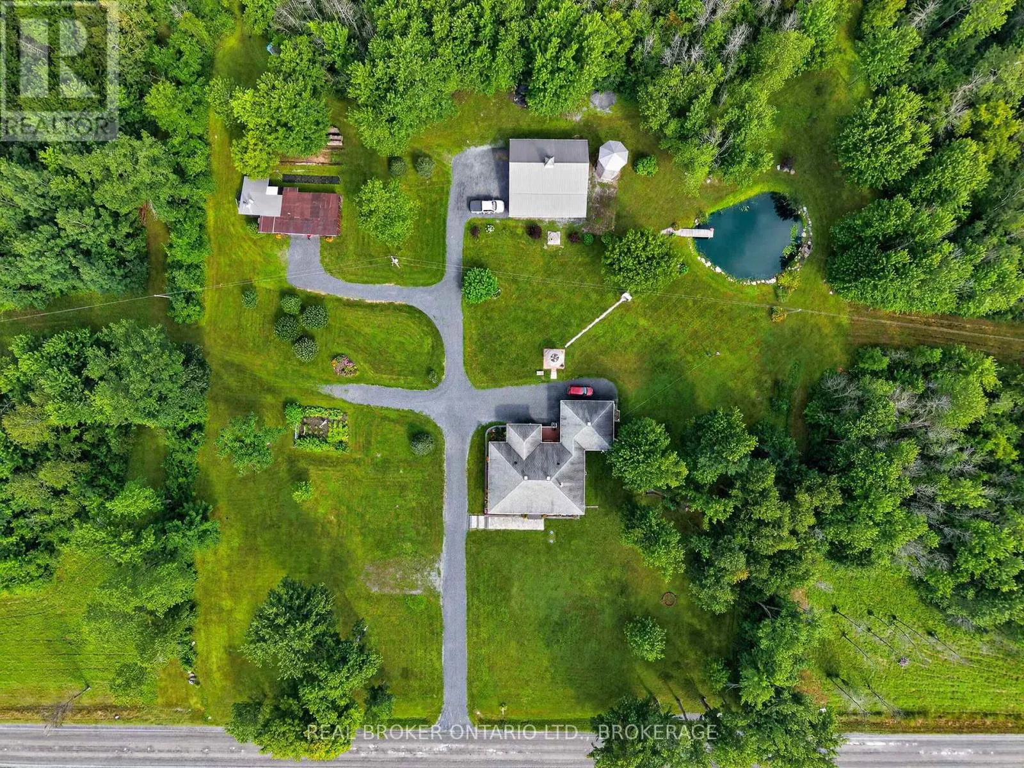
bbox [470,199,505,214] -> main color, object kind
white vehicle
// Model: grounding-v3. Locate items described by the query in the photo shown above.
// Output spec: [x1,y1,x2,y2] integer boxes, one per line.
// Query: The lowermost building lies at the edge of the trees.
[487,400,615,515]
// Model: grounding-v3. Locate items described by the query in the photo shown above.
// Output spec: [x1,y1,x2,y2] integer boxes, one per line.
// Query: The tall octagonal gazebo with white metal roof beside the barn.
[596,141,629,180]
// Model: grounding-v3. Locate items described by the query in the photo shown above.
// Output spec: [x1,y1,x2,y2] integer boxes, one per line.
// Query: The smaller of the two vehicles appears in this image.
[568,384,593,397]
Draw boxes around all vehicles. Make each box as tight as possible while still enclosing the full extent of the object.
[568,384,593,397]
[470,199,505,214]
